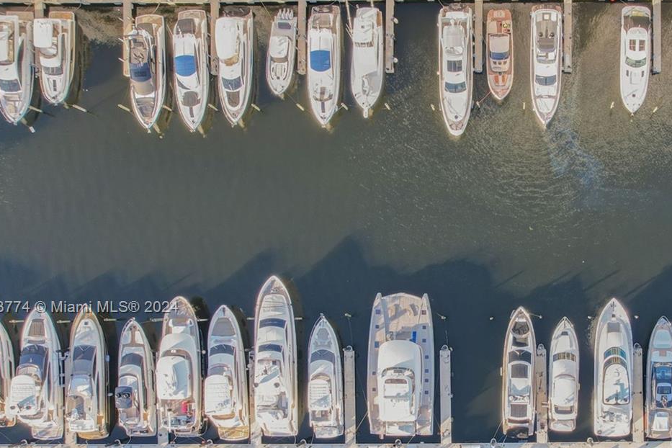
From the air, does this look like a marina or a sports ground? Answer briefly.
marina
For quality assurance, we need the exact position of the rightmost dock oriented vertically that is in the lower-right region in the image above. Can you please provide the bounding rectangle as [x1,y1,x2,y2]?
[633,348,645,441]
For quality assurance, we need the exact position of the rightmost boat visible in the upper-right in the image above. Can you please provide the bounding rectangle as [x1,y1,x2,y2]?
[612,0,654,115]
